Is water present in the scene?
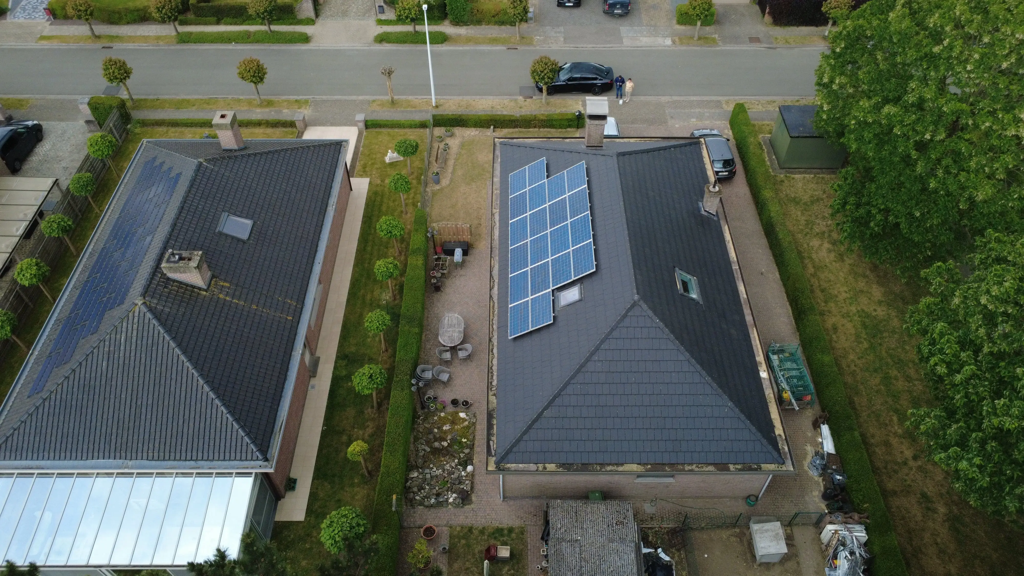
No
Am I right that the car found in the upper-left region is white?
No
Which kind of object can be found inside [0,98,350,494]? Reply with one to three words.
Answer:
house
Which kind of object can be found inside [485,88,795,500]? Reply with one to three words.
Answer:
house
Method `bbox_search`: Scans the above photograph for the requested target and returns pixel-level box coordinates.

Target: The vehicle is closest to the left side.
[0,124,42,173]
